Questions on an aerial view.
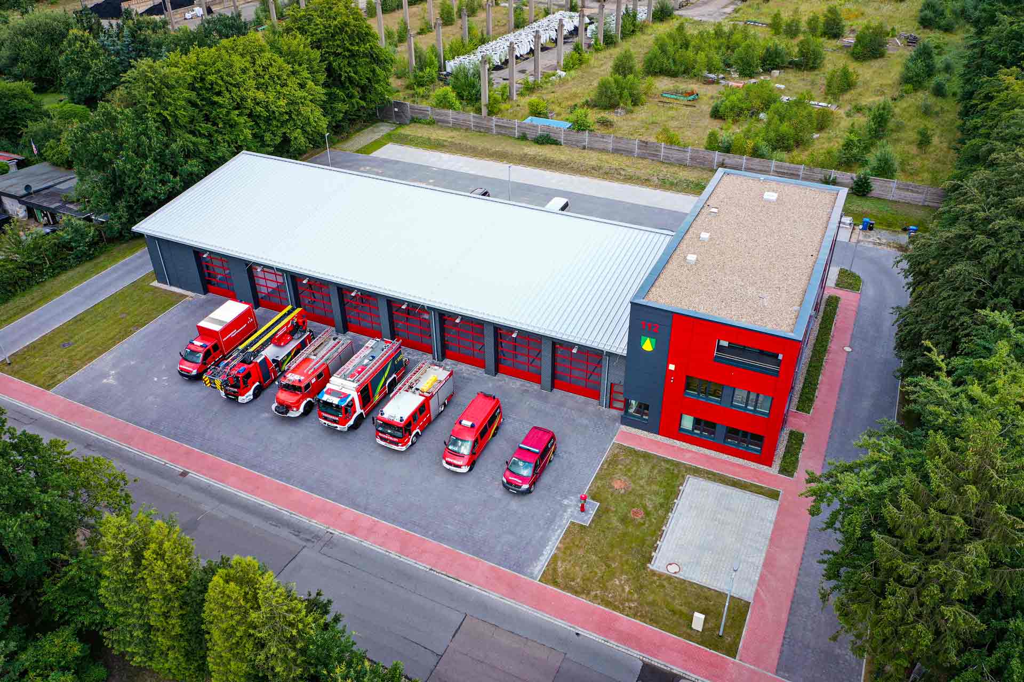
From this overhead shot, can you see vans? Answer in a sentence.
Yes, there is a van in the image.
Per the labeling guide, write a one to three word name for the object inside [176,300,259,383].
vehicle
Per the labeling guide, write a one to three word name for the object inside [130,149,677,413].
building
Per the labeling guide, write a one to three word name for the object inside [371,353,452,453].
truck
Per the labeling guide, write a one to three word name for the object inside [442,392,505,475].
van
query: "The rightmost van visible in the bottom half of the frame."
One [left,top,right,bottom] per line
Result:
[501,422,559,495]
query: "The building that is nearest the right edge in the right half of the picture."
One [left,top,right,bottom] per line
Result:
[623,168,848,467]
